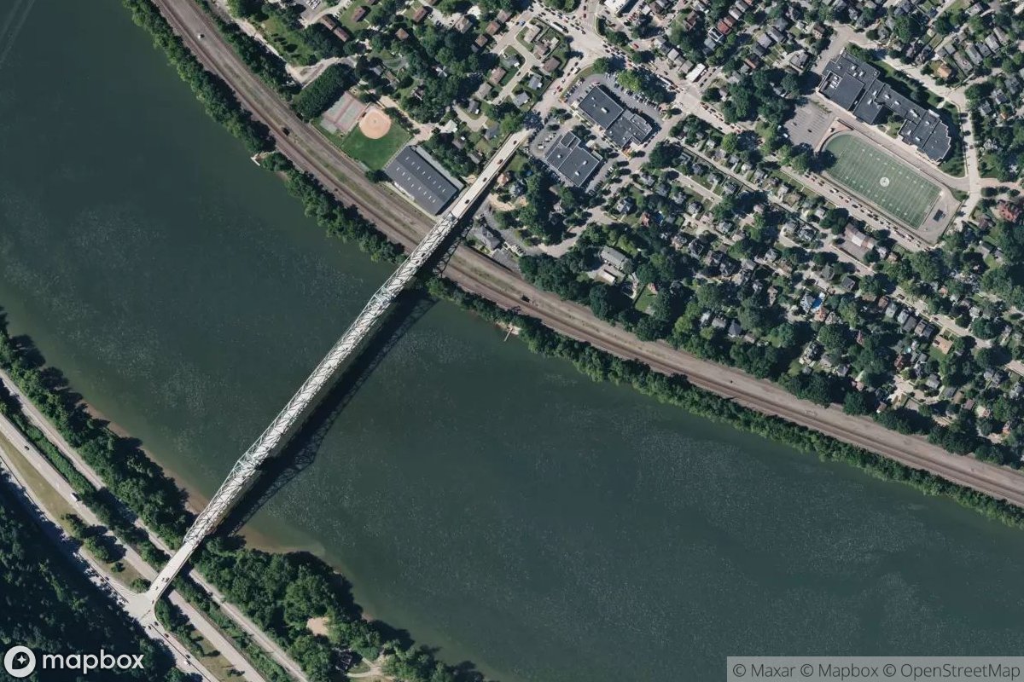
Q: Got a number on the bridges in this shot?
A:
1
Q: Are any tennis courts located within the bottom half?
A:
No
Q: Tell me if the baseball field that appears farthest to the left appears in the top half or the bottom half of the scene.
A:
top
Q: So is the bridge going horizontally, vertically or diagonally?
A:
diagonally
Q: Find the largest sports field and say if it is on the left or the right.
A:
right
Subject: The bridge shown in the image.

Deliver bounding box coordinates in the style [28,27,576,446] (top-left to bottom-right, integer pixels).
[147,131,524,600]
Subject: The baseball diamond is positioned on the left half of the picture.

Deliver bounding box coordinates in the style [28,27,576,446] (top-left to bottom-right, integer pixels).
[341,108,413,169]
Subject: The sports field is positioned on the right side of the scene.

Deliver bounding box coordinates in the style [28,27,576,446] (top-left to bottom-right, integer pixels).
[820,130,966,243]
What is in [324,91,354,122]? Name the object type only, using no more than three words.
tennis court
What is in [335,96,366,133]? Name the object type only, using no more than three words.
tennis court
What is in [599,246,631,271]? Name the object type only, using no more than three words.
house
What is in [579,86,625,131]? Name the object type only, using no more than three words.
building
